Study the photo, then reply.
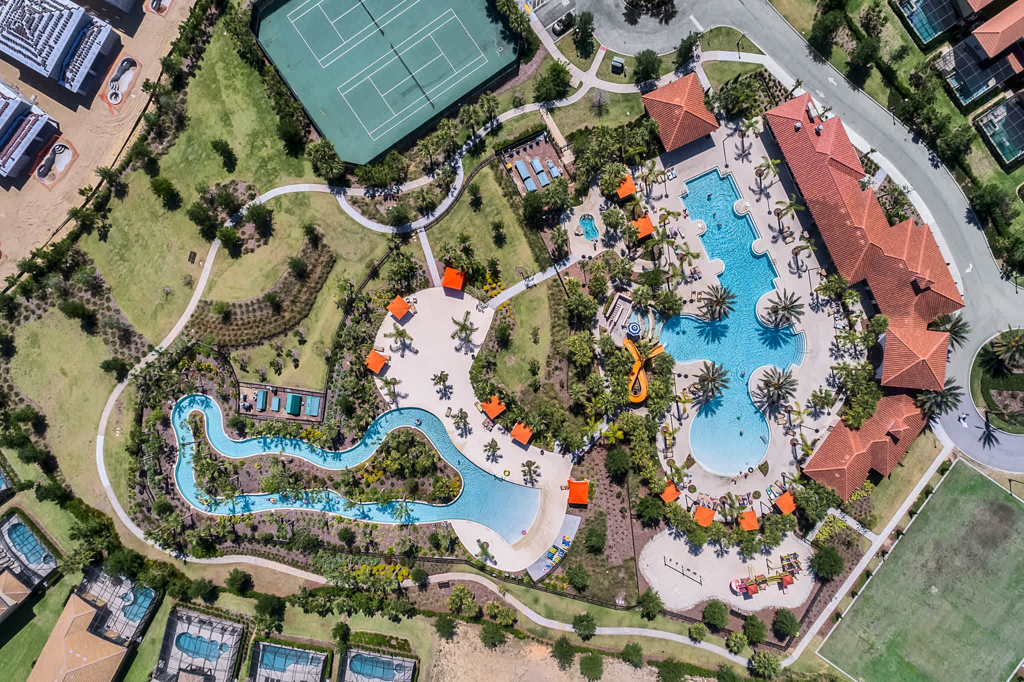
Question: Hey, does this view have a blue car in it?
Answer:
No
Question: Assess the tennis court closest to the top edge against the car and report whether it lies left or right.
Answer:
on the left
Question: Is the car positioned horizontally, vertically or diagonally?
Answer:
diagonally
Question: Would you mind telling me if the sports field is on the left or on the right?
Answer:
right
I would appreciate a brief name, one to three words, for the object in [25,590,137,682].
house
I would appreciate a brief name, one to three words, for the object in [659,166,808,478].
swimming pool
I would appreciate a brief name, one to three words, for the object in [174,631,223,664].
swimming pool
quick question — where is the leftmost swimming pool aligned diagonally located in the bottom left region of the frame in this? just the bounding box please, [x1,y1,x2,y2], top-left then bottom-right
[6,522,46,566]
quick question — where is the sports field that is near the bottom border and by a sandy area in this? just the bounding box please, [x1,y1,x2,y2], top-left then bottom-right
[817,461,1024,682]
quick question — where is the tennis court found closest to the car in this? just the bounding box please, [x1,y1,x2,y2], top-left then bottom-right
[258,0,519,164]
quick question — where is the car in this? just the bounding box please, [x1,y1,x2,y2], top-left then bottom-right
[551,11,576,37]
